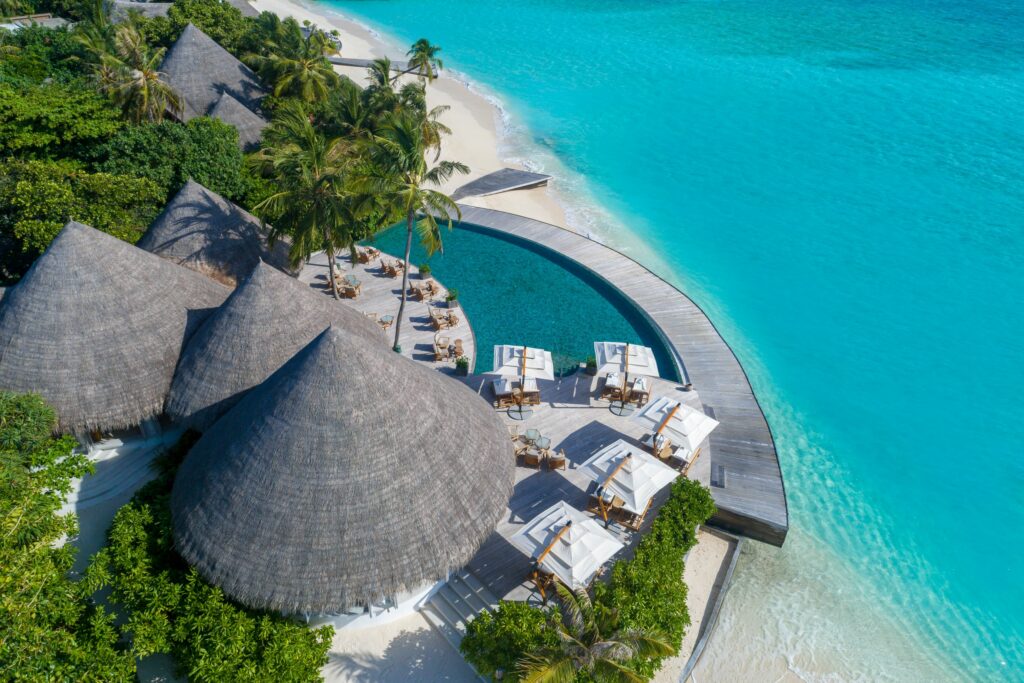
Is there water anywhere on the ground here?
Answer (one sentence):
Yes, water shows up in the scene.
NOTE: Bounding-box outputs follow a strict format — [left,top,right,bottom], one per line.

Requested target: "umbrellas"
[487,346,556,424]
[579,437,680,539]
[636,394,719,470]
[512,499,621,616]
[594,343,659,421]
